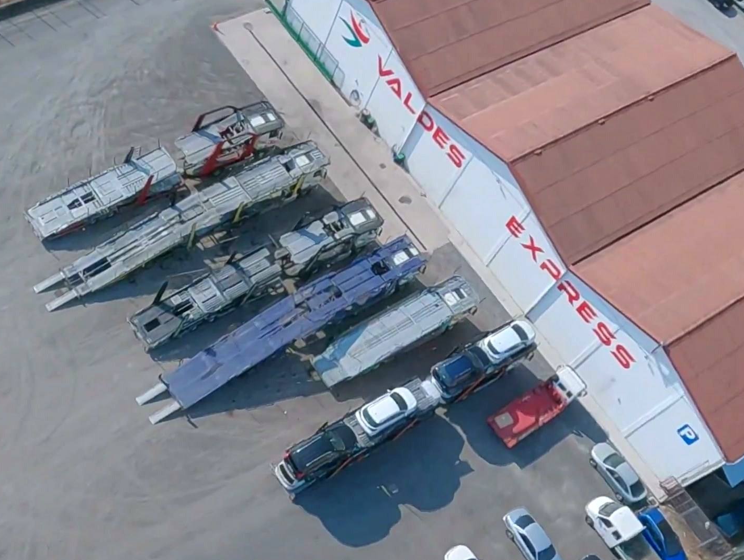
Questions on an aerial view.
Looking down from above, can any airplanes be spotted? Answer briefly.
No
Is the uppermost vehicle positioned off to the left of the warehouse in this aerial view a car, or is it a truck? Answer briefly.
truck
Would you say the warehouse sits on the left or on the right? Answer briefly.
right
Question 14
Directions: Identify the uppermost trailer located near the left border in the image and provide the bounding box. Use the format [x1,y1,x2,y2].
[21,136,181,243]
